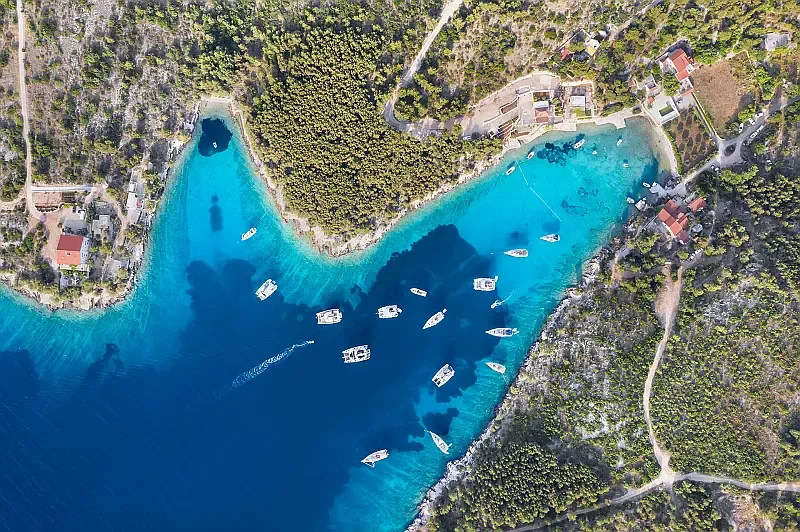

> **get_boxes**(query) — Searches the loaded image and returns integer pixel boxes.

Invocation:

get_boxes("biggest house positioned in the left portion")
[54,235,89,264]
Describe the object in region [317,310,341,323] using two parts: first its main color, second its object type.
white boat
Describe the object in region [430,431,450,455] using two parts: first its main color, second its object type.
white boat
